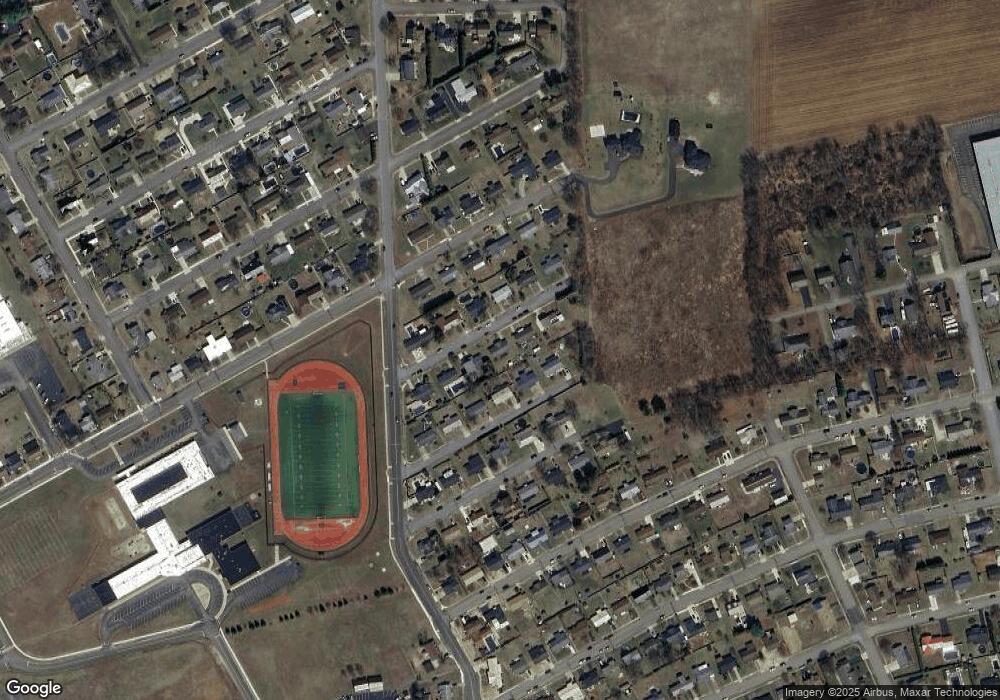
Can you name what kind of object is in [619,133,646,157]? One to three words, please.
house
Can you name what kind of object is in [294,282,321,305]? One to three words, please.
house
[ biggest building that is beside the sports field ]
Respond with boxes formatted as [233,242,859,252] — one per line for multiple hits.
[68,441,262,620]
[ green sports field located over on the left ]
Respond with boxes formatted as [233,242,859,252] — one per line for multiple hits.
[281,392,360,518]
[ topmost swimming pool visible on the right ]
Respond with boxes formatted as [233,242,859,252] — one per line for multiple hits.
[621,110,641,123]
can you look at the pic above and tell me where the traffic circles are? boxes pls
[183,571,230,632]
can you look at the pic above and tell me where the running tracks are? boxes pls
[268,356,373,555]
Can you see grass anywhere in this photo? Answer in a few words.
Yes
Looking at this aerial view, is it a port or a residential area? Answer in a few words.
residential area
